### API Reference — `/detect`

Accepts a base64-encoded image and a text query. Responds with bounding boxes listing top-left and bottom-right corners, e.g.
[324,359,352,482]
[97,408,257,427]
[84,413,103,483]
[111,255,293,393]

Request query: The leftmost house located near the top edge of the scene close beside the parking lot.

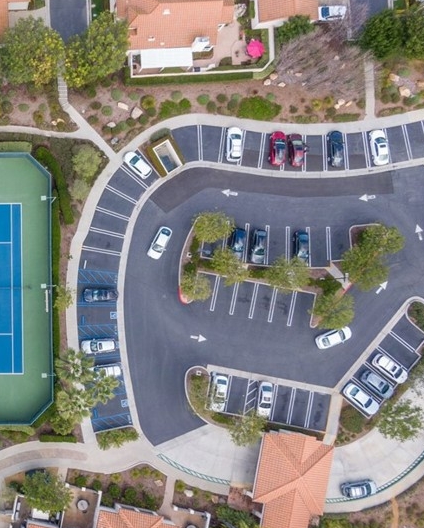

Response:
[115,0,235,72]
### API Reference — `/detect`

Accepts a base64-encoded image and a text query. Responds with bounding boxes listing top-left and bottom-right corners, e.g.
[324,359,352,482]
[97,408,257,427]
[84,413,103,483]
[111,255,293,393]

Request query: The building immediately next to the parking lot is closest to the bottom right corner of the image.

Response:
[252,427,335,528]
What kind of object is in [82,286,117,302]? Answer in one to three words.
car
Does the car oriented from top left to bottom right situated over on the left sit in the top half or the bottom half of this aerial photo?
top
